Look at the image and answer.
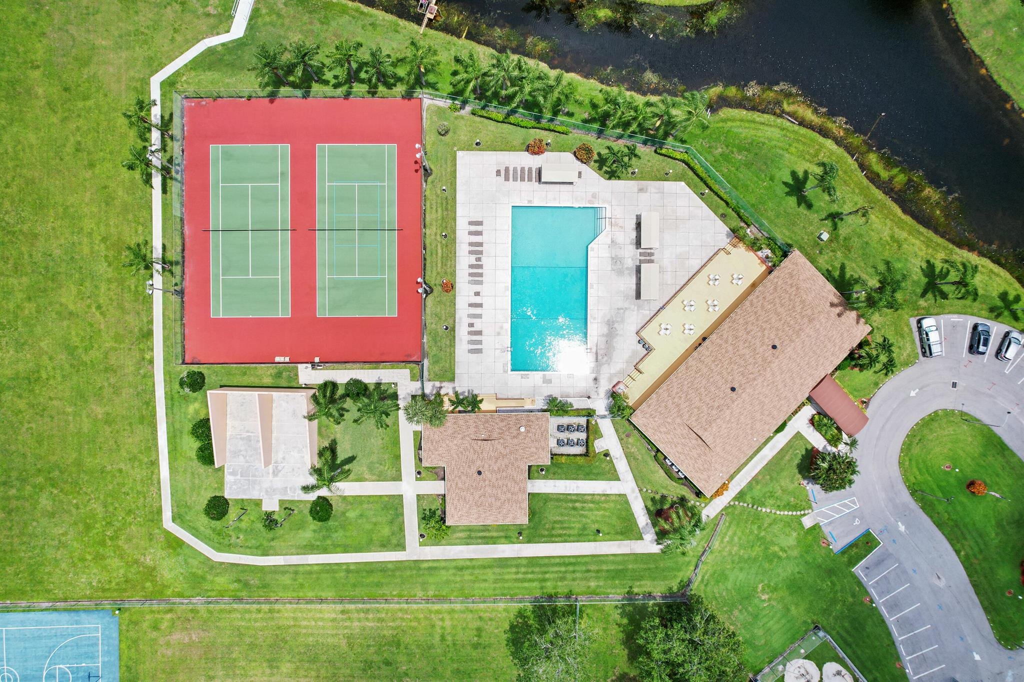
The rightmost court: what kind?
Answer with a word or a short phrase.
tennis court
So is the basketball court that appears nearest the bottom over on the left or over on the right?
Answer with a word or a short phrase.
left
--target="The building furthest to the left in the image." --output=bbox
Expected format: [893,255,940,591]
[421,412,550,525]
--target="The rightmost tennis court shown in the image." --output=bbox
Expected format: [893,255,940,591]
[316,144,397,316]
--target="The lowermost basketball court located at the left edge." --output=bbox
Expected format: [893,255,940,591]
[0,610,119,682]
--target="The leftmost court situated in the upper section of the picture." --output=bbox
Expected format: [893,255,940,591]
[210,144,290,317]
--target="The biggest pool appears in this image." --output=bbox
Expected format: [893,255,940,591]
[509,204,611,373]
